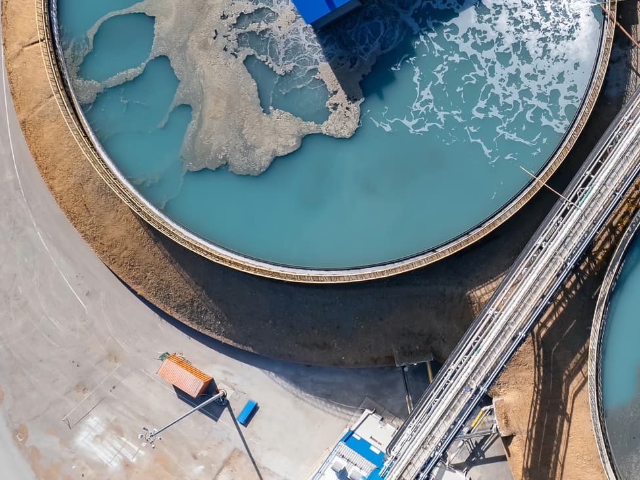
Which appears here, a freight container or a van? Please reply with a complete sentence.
There is a freight container in the scene.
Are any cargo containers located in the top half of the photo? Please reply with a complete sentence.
No, looking in the top half of the photo, there is no cargo container.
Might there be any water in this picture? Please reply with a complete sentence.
Yes, water shows up in the scene.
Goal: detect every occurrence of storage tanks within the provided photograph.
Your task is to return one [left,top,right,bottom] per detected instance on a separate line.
[583,199,640,480]
[34,0,618,285]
